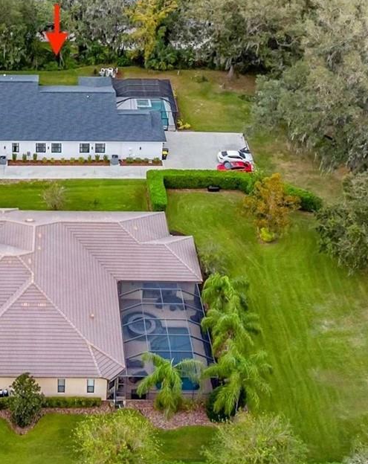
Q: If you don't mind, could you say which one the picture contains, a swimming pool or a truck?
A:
swimming pool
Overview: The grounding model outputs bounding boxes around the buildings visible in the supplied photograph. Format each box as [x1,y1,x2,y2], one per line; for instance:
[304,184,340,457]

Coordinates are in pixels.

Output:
[0,74,165,165]
[0,204,203,396]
